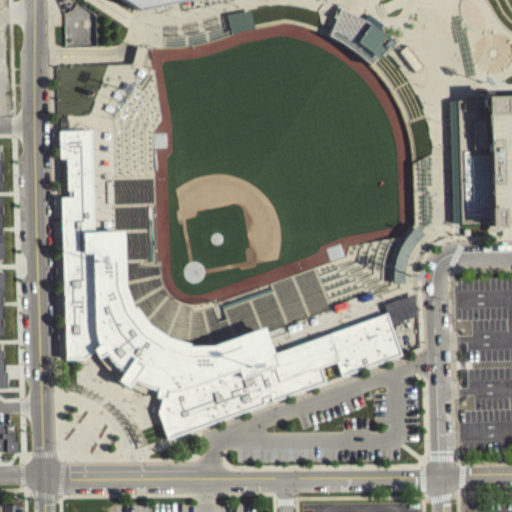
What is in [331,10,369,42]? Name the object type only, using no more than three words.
building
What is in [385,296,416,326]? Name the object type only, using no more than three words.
building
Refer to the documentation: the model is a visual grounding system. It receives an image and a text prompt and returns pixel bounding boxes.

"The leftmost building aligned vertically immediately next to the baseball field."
[58,130,97,361]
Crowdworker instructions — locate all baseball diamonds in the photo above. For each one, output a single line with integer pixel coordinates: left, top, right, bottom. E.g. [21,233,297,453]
[151,26,412,308]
